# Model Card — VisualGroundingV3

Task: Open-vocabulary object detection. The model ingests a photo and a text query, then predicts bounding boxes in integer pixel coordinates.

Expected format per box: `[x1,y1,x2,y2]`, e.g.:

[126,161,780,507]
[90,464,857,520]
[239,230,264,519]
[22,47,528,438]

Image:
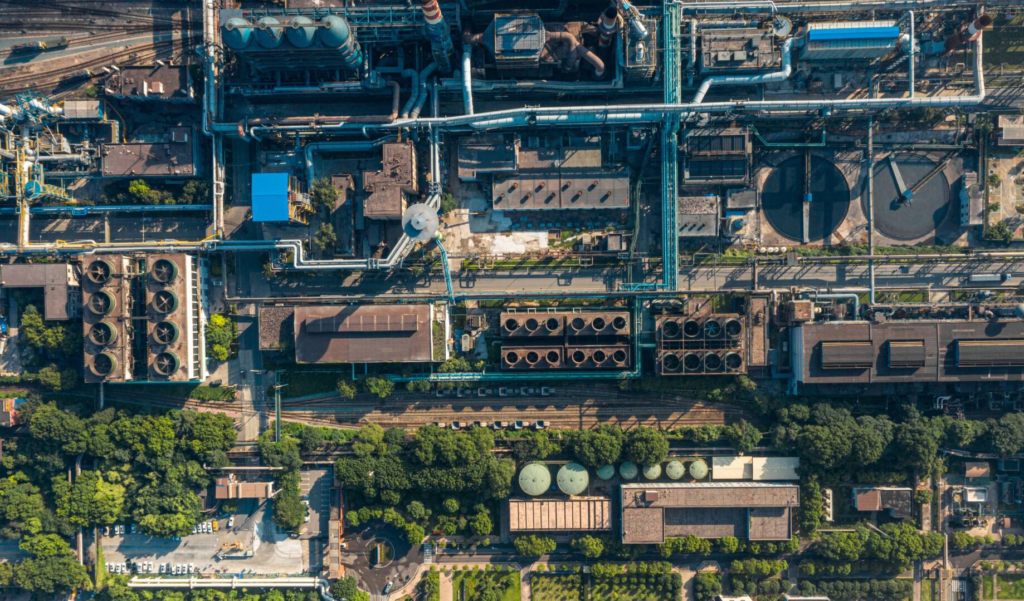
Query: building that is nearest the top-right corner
[990,116,1024,147]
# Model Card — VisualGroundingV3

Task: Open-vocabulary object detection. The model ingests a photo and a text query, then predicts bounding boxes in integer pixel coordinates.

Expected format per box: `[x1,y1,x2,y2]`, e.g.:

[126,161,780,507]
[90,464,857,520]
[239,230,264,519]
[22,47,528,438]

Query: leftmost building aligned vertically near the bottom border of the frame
[329,467,346,578]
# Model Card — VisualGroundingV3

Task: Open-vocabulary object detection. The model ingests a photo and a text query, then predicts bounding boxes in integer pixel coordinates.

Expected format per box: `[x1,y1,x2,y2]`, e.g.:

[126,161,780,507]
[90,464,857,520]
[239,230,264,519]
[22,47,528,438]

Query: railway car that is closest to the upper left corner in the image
[11,37,69,54]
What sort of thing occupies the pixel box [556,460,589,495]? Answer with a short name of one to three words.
storage tank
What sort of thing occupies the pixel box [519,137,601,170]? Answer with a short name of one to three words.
building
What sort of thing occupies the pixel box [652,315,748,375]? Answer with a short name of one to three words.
cooling tower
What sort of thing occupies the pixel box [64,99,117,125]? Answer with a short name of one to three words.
shed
